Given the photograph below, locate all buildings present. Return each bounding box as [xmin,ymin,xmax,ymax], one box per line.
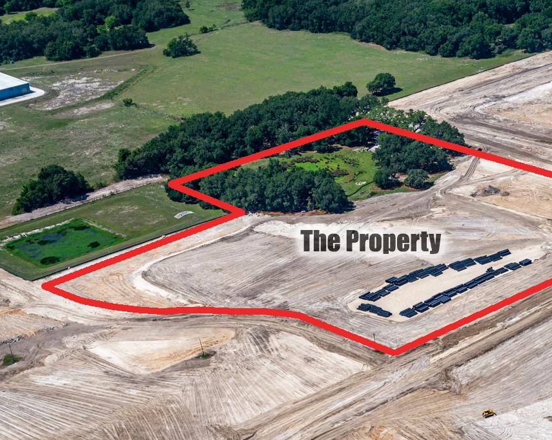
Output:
[0,74,31,99]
